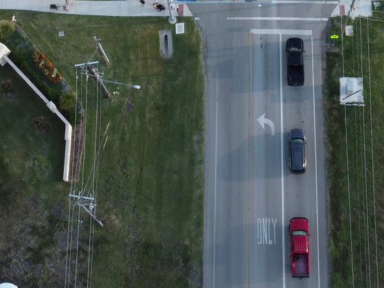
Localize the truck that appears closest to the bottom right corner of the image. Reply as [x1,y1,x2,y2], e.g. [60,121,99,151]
[287,217,311,278]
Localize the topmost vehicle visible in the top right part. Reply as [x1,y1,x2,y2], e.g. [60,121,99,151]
[284,38,306,88]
